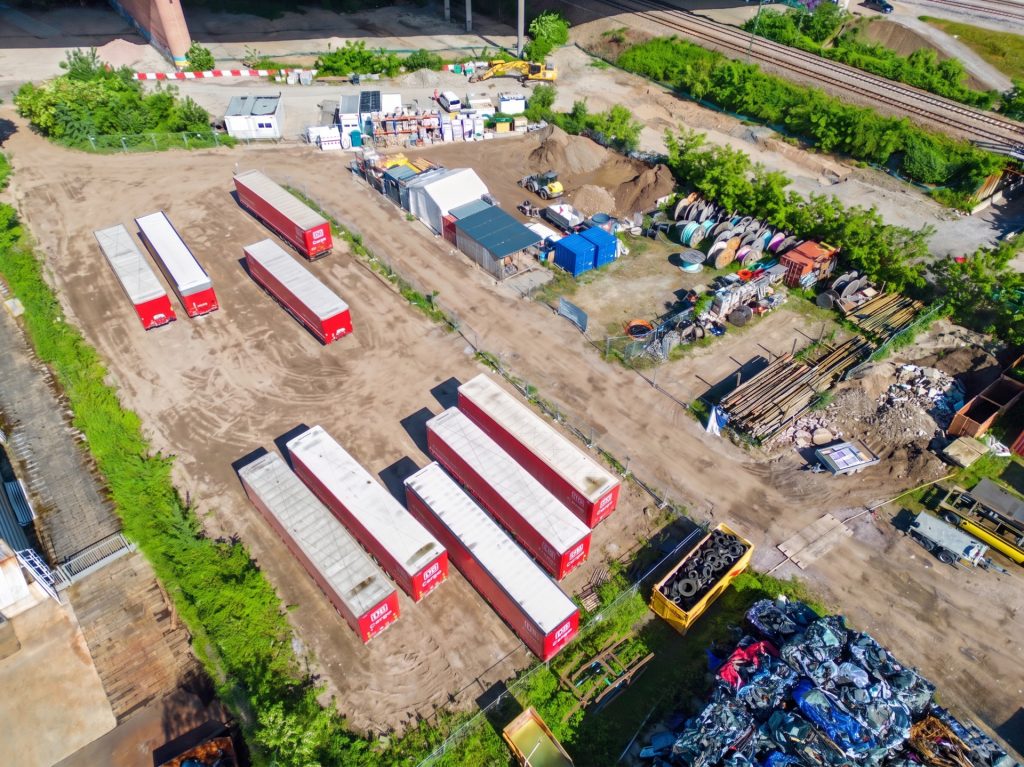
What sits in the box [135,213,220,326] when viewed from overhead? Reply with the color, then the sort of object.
white trailer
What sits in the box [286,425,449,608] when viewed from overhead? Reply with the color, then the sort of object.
white trailer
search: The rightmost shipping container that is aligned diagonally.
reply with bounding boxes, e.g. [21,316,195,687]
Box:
[948,355,1024,451]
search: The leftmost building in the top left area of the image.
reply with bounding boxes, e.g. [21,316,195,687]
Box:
[227,90,284,139]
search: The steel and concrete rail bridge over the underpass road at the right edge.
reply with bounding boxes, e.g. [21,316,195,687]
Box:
[986,132,1024,177]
